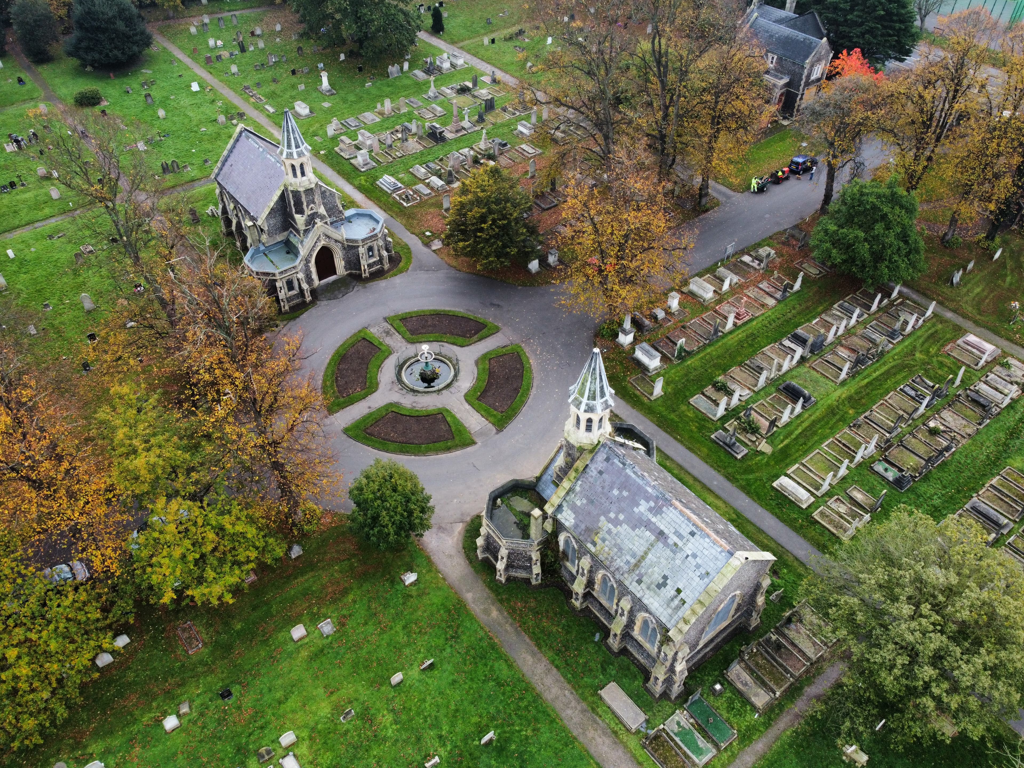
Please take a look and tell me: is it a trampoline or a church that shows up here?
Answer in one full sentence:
The one in the frame is a church.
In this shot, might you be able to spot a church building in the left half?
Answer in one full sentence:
Yes, a church building appears in the left half.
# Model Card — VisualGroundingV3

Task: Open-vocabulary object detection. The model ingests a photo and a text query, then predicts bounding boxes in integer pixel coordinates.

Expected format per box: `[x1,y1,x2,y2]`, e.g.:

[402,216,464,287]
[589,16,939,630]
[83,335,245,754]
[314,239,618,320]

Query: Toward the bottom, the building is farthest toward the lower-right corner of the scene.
[483,347,772,694]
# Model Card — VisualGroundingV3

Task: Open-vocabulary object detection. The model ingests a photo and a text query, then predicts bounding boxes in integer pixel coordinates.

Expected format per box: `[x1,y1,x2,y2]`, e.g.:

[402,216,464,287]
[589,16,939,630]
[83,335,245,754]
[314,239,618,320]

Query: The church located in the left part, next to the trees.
[211,107,391,310]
